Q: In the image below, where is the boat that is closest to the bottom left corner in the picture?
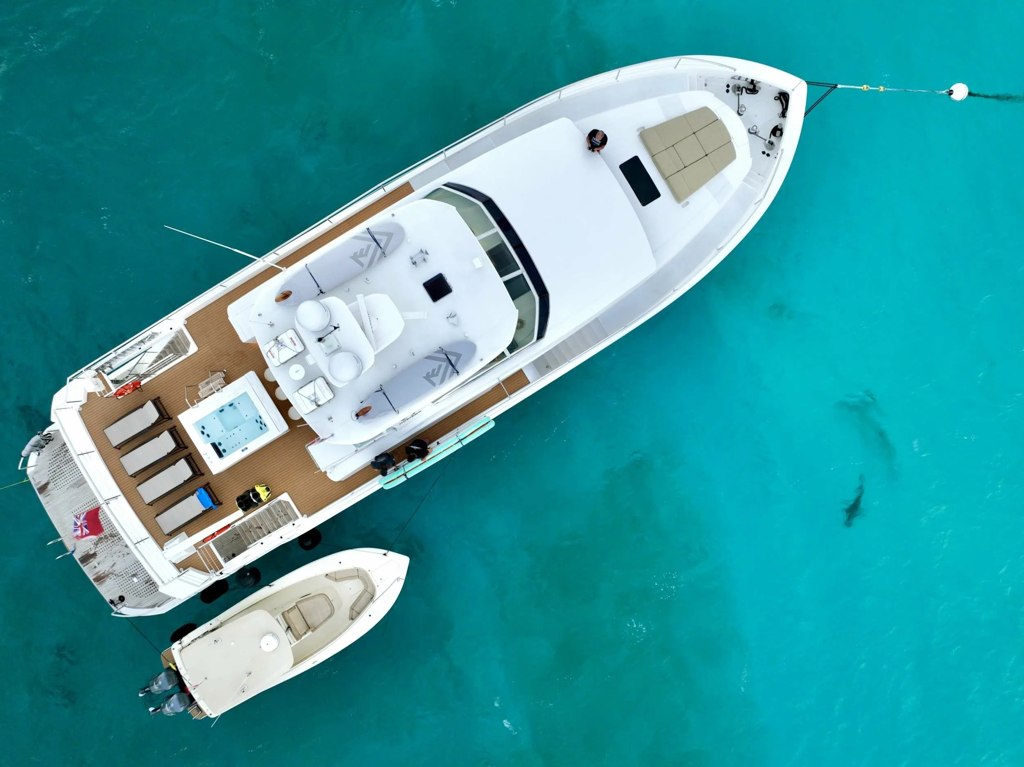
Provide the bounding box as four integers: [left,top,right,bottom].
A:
[134,547,411,727]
